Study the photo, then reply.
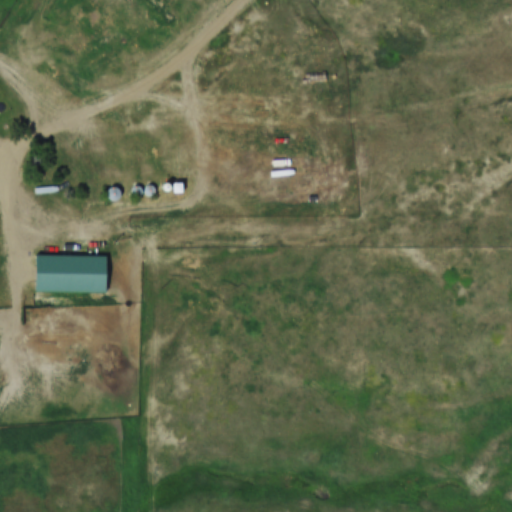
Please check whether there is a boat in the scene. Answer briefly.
No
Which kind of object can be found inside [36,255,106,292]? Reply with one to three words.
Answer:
barn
